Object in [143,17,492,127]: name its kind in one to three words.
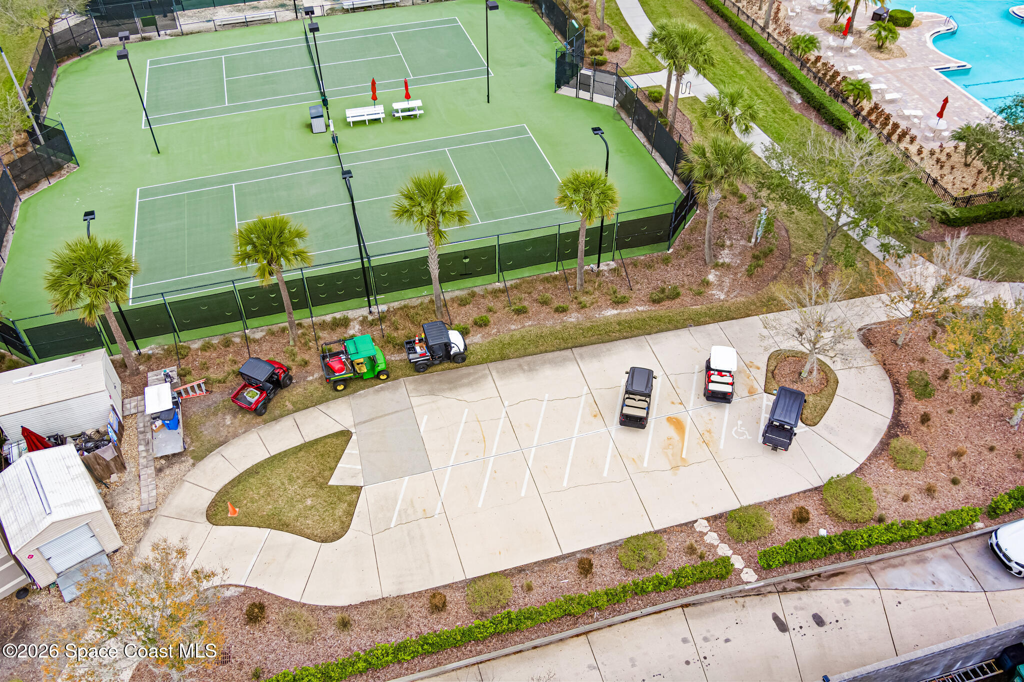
tennis court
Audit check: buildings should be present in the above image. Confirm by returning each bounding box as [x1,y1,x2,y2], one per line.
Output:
[0,443,124,601]
[0,347,123,444]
